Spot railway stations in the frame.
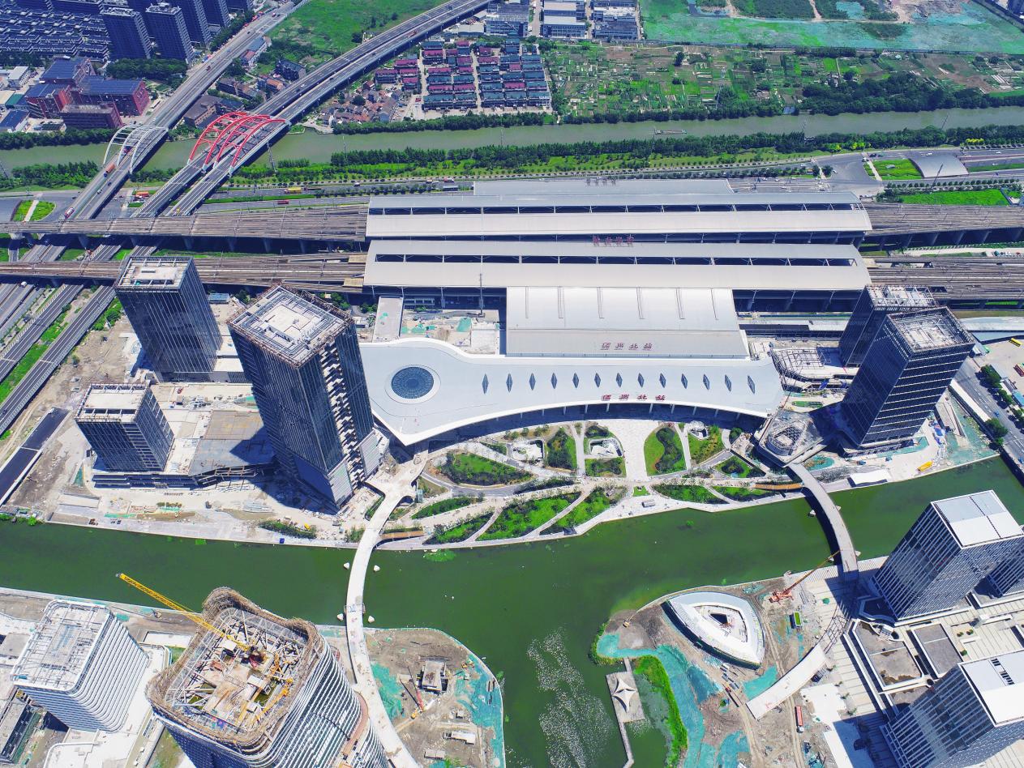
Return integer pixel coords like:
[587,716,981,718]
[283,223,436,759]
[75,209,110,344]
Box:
[343,175,880,451]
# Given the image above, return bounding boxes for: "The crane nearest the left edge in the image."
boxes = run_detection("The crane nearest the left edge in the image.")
[118,574,277,665]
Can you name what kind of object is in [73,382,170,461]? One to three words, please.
building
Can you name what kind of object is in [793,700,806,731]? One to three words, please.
vehicle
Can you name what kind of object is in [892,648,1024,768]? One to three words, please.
building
